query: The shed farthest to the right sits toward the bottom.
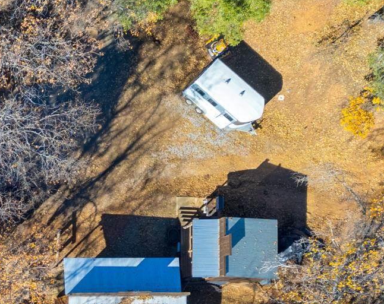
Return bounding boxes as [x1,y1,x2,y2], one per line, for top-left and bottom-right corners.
[174,216,278,279]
